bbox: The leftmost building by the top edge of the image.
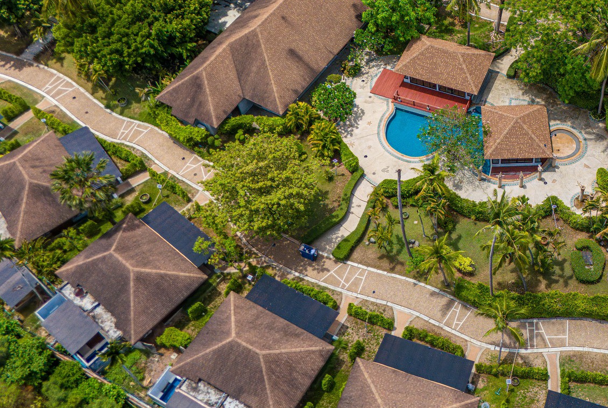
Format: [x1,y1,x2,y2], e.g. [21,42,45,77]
[155,0,373,132]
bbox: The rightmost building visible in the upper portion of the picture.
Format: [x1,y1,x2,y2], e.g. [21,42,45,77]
[480,104,552,181]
